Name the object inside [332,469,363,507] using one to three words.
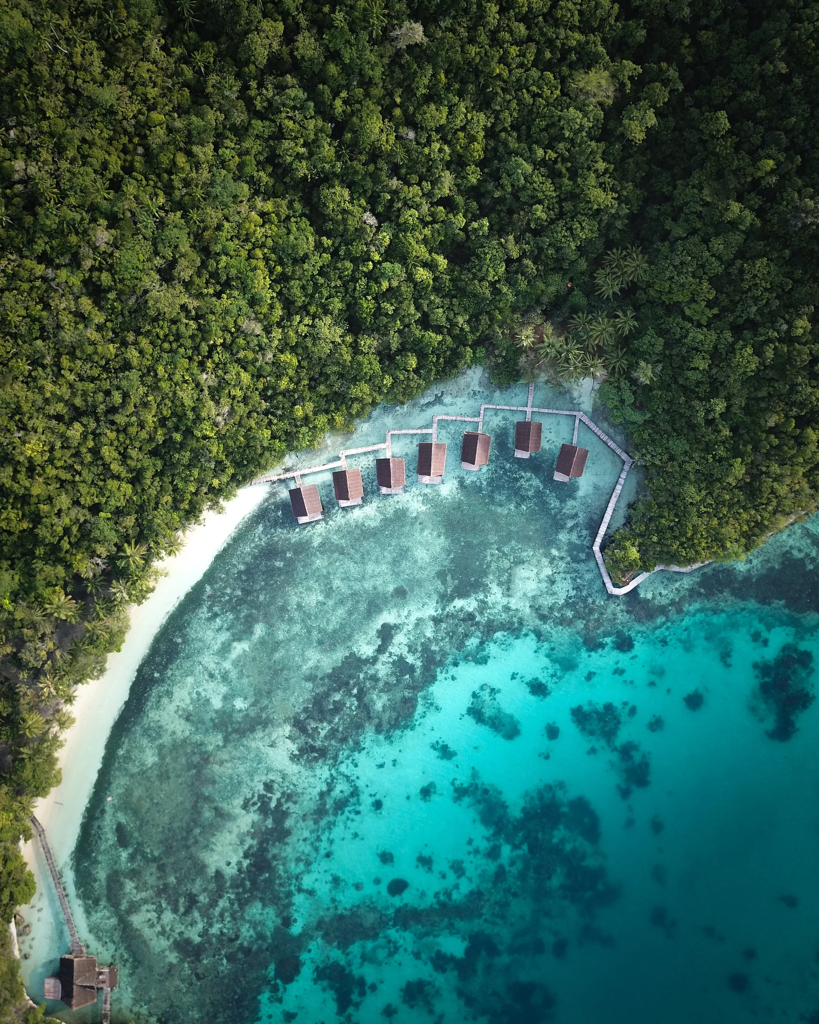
house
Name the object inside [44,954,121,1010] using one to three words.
shed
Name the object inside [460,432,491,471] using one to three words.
house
